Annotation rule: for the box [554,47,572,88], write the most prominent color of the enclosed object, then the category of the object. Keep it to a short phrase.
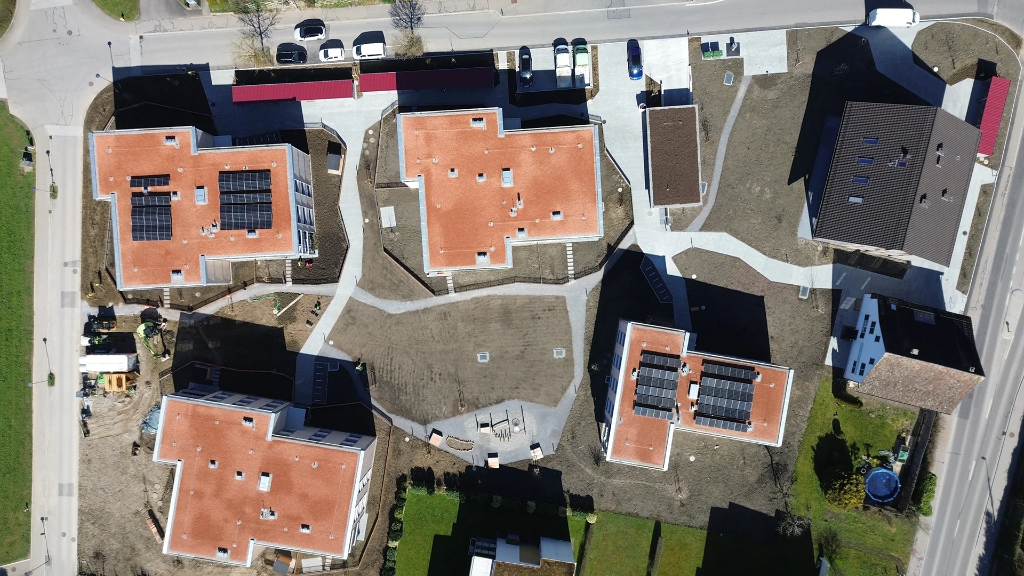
white vehicle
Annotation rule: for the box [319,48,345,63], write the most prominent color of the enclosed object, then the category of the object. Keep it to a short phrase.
white car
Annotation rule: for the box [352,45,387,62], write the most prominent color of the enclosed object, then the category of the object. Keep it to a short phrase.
white vehicle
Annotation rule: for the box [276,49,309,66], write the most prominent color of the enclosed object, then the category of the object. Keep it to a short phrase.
black car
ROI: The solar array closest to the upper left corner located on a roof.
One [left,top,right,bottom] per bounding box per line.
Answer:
[130,176,172,241]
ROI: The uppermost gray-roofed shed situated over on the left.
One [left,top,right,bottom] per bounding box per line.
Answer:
[326,154,344,175]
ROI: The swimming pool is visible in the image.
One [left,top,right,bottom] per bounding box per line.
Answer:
[870,469,904,504]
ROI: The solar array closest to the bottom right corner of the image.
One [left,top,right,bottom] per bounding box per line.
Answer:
[694,363,757,432]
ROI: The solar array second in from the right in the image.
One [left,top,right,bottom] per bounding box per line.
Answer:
[633,354,681,421]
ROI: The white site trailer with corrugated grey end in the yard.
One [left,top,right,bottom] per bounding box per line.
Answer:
[83,353,136,372]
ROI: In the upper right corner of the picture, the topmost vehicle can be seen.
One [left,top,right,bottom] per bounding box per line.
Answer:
[865,11,912,31]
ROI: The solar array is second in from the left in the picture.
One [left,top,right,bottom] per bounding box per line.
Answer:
[218,171,272,230]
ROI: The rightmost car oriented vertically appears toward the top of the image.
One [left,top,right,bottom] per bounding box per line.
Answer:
[628,48,644,81]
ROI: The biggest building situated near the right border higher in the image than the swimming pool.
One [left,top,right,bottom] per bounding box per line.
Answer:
[794,100,983,268]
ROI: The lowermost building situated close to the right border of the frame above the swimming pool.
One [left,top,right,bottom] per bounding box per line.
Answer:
[844,295,986,415]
